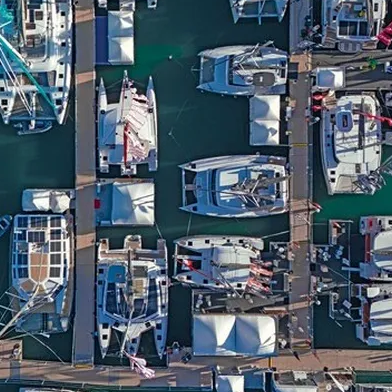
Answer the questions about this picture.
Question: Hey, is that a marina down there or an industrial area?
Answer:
marina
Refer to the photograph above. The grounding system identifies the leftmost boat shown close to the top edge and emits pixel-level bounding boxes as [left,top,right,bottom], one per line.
[0,0,78,126]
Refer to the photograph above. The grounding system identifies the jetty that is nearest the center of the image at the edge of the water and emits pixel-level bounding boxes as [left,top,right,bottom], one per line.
[95,182,157,227]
